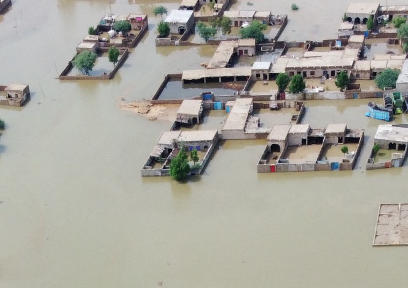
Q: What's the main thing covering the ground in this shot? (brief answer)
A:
water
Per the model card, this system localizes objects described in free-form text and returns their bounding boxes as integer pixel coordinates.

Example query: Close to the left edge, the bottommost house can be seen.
[6,83,30,99]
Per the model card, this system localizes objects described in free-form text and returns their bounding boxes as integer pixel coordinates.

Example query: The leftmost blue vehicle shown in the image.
[364,105,394,120]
